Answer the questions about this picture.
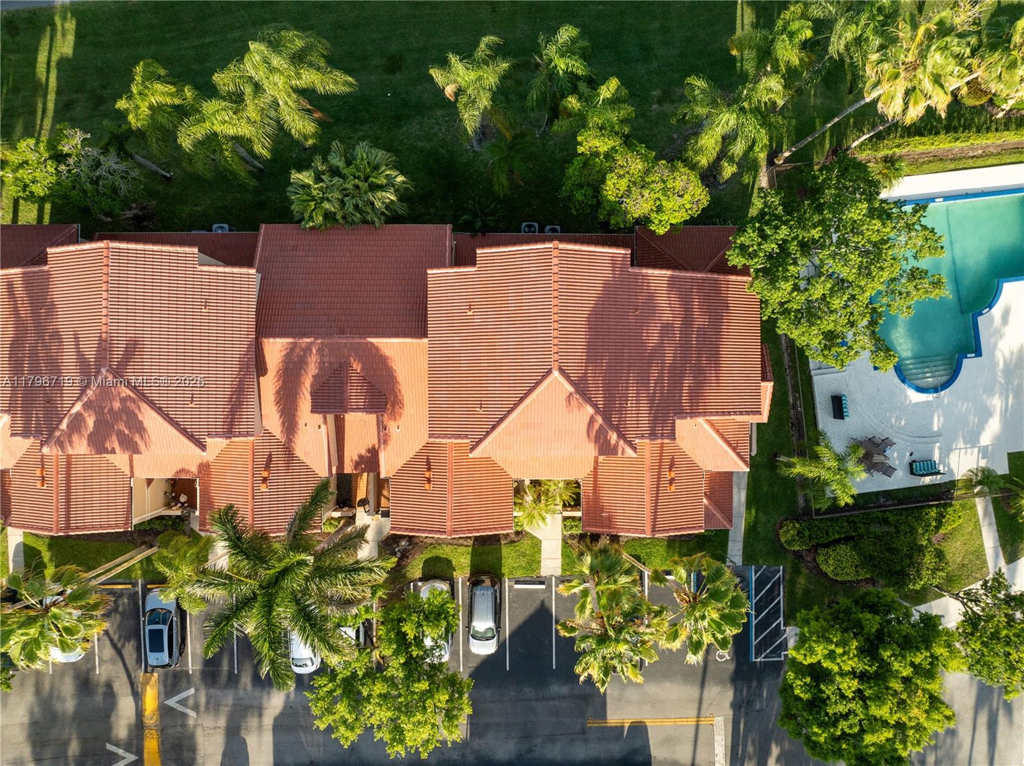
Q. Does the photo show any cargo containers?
No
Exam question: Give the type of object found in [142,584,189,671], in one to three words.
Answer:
car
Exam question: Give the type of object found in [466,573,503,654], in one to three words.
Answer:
car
